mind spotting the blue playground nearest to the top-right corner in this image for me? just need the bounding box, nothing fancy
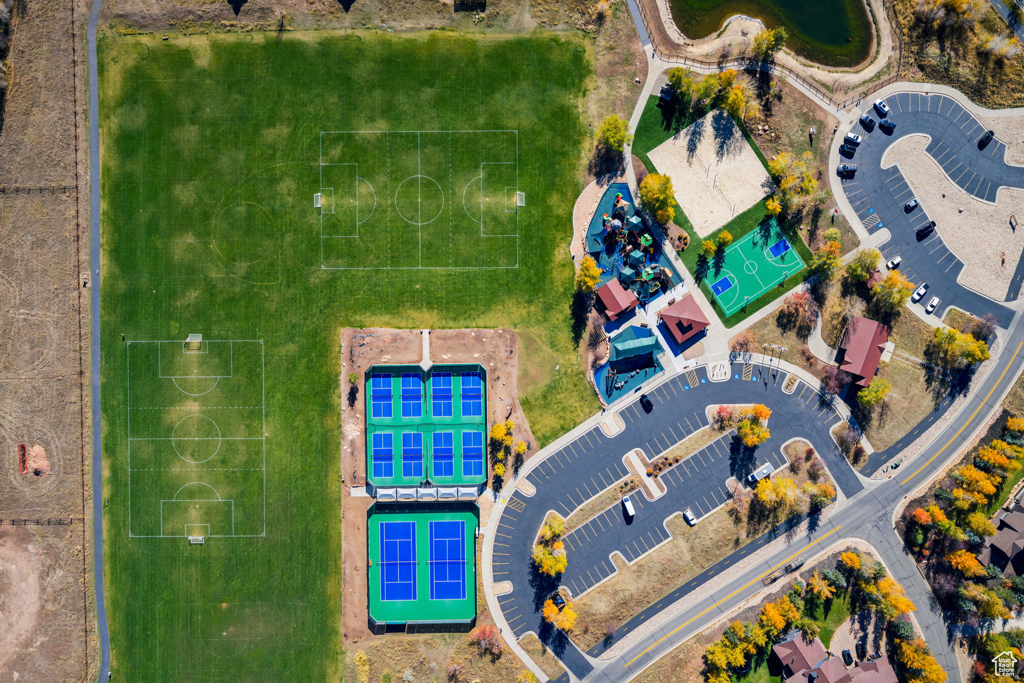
[586,182,683,313]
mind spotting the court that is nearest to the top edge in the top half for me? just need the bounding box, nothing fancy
[647,106,778,238]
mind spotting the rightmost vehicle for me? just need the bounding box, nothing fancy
[978,130,993,147]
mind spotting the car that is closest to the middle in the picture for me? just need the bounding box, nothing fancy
[640,395,653,412]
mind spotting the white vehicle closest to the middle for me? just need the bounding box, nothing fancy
[621,494,636,518]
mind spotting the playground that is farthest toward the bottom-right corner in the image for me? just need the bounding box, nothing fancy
[594,325,665,405]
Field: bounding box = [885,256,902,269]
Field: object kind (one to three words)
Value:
vehicle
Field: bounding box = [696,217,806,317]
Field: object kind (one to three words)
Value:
basketball court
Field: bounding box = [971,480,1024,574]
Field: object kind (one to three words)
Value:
house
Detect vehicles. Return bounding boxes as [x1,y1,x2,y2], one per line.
[640,395,653,412]
[903,198,920,211]
[885,256,902,269]
[911,282,930,299]
[874,99,889,115]
[746,462,776,481]
[916,224,933,238]
[838,144,856,154]
[860,114,876,129]
[836,165,857,173]
[978,130,993,147]
[924,296,939,311]
[683,508,695,525]
[844,132,861,144]
[854,642,865,660]
[877,119,897,131]
[841,647,852,665]
[621,494,636,518]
